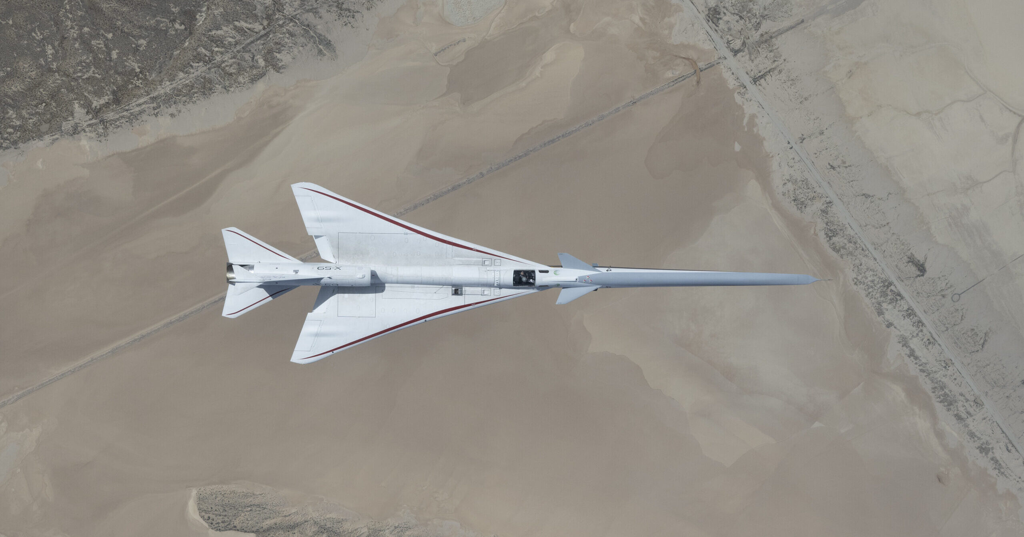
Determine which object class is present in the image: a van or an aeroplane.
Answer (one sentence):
It is an aeroplane that can be seen here.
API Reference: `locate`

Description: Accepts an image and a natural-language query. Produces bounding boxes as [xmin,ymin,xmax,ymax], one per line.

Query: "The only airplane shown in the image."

[222,181,820,364]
